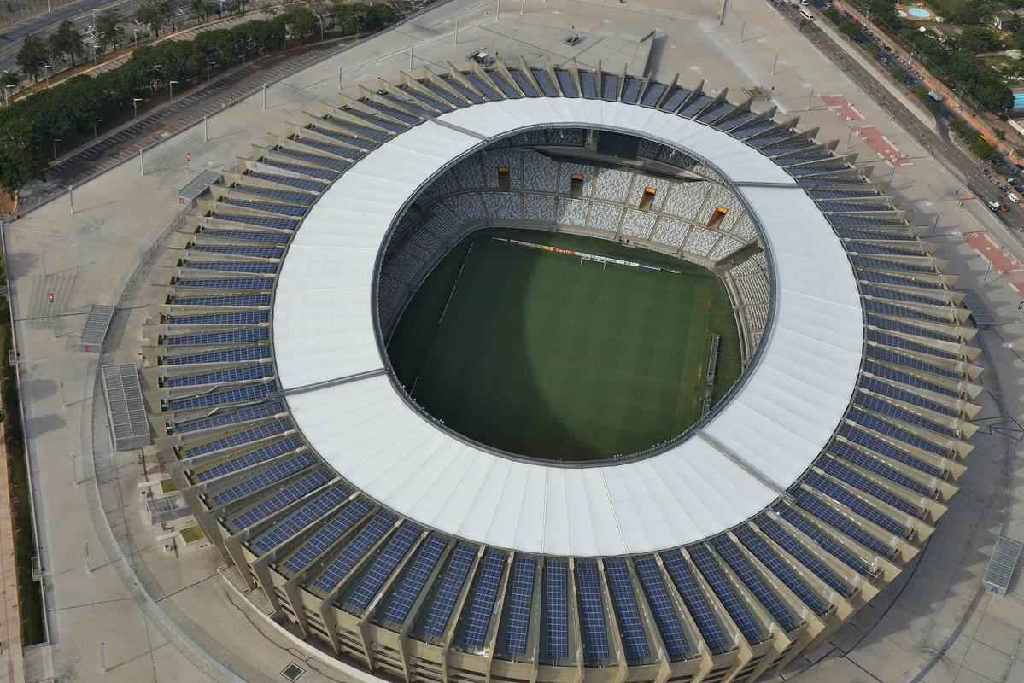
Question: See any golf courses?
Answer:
No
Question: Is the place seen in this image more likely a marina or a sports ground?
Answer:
sports ground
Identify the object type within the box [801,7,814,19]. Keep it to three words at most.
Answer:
vehicle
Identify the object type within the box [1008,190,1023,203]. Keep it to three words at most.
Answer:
vehicle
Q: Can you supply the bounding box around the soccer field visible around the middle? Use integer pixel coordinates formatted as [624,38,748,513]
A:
[386,224,742,463]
